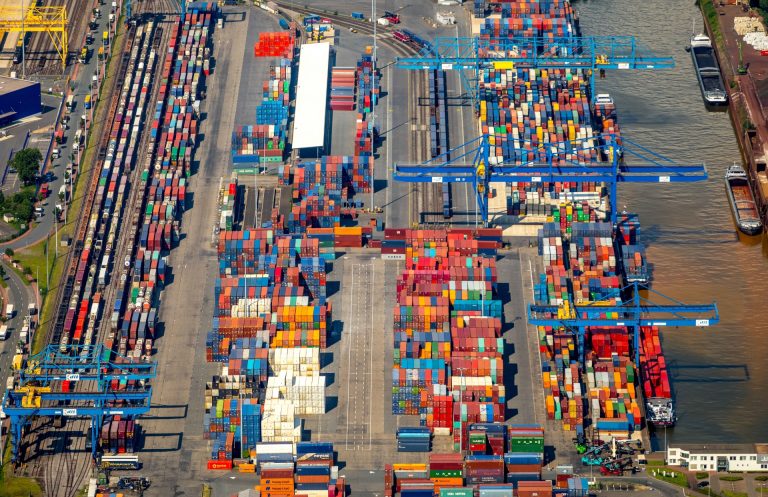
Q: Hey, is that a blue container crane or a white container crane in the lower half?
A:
blue container crane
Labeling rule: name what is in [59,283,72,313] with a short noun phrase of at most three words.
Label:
rail car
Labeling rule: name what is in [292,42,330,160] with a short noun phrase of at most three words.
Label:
shed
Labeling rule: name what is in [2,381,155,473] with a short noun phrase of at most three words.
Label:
container crane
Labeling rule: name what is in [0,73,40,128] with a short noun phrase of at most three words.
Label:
building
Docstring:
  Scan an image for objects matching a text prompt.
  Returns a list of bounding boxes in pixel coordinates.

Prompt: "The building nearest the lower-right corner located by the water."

[666,436,768,472]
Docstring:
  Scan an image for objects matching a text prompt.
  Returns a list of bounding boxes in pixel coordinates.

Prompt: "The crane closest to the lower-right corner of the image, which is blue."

[525,271,720,391]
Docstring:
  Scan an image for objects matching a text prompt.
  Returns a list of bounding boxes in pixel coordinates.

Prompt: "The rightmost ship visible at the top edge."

[687,22,727,109]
